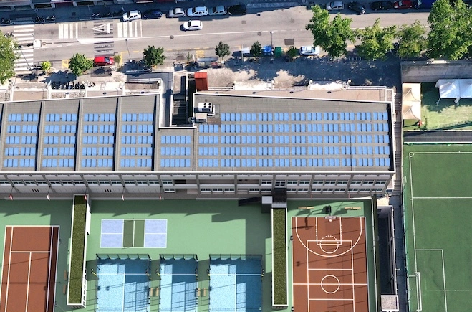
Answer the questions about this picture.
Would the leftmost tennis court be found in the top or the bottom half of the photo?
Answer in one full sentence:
The leftmost tennis court is in the bottom half of the image.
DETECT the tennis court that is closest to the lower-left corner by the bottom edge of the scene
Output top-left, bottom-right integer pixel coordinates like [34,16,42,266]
[0,226,60,312]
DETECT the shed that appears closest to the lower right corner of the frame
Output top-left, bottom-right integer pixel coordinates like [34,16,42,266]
[380,294,400,312]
